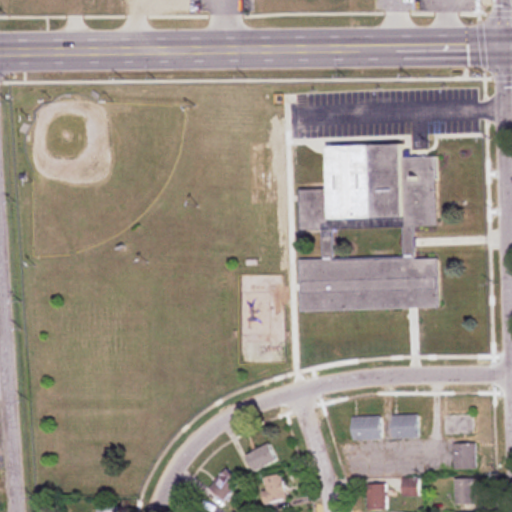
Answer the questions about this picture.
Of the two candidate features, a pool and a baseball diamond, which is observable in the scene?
baseball diamond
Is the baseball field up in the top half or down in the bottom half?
top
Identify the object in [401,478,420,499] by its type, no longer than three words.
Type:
building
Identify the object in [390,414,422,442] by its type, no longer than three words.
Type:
house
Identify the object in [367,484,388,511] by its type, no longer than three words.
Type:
house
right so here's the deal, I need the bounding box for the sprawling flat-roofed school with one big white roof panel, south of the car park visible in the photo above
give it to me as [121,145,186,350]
[298,144,442,310]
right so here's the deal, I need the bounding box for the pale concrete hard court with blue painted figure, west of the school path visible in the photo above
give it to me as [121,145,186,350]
[242,275,286,362]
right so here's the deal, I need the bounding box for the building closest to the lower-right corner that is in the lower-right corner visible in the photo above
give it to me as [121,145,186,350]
[454,482,478,506]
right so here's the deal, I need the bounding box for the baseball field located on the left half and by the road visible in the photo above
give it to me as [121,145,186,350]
[32,96,186,256]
